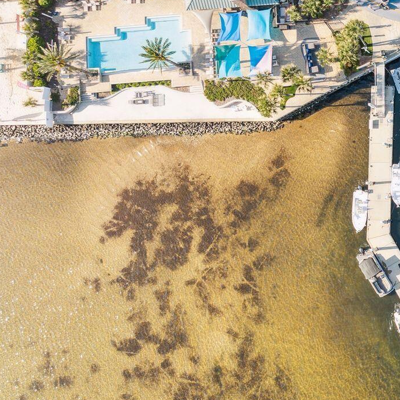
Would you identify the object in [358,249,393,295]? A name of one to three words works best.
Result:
boat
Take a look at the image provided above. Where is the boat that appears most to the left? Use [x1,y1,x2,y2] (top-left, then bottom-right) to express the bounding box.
[351,183,368,234]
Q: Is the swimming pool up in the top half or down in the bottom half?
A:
top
